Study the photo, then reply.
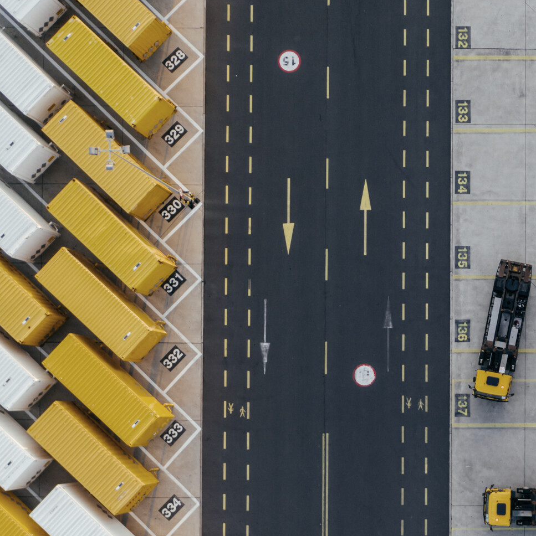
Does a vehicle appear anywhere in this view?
Yes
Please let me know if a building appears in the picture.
No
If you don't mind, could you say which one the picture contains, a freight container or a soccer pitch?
freight container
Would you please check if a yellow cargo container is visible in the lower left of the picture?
Yes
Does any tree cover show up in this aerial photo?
No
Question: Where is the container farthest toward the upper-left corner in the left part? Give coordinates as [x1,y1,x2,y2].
[0,0,66,37]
